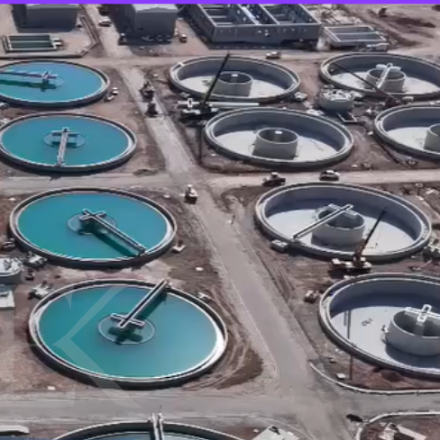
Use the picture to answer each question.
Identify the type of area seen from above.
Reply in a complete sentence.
This looks like an industrial area.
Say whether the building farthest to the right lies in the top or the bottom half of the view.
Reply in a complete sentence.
The building farthest to the right sits in the top half of the picture.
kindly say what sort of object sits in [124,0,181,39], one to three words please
building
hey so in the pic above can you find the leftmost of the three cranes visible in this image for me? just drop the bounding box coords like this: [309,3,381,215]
[186,55,229,113]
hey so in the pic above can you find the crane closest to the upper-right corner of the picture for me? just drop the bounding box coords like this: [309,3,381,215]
[332,60,410,108]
